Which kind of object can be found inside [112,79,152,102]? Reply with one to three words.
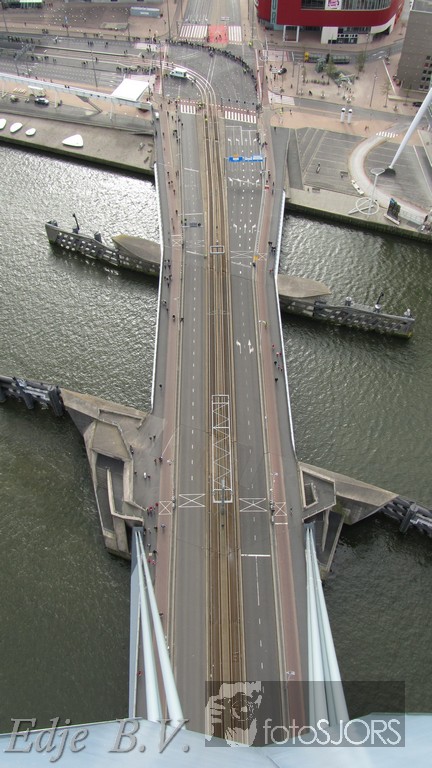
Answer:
tent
